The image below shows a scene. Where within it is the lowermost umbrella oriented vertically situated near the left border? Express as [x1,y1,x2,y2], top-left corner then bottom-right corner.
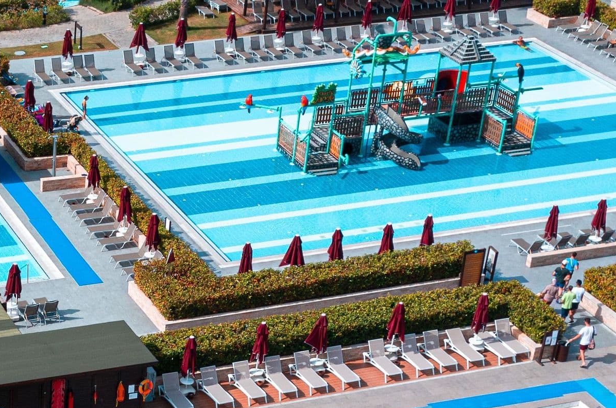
[5,262,22,326]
